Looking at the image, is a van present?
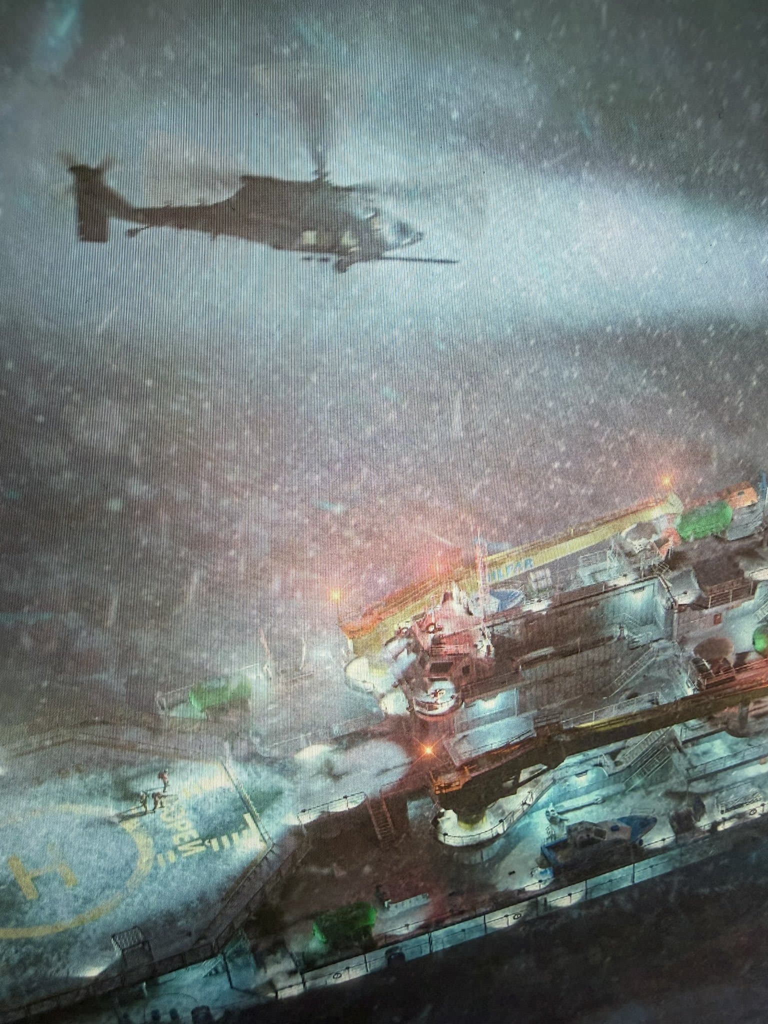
No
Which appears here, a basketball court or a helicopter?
helicopter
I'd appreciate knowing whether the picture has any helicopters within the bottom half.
No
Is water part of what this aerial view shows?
Yes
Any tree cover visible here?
No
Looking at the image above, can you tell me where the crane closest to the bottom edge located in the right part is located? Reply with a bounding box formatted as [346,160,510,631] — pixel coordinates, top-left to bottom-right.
[421,658,768,839]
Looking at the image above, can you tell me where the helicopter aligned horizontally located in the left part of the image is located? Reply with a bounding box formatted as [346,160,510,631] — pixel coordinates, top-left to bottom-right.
[51,92,511,270]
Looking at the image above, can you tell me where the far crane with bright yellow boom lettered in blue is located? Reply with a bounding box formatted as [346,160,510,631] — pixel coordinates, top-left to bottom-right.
[316,484,702,709]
